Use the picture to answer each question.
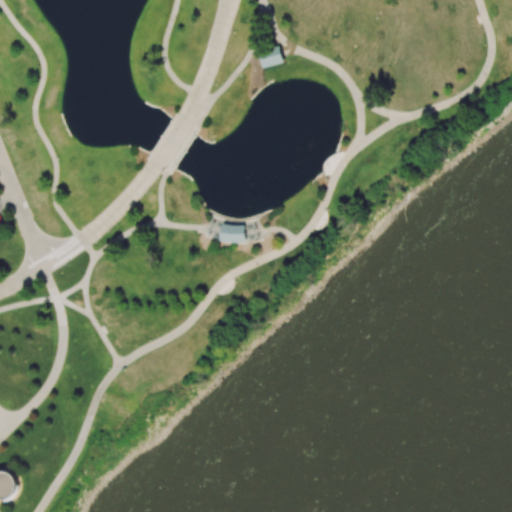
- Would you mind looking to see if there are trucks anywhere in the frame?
No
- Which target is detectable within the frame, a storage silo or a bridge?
bridge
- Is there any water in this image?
Yes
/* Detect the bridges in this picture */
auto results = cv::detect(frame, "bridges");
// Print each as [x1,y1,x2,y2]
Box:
[144,106,204,174]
